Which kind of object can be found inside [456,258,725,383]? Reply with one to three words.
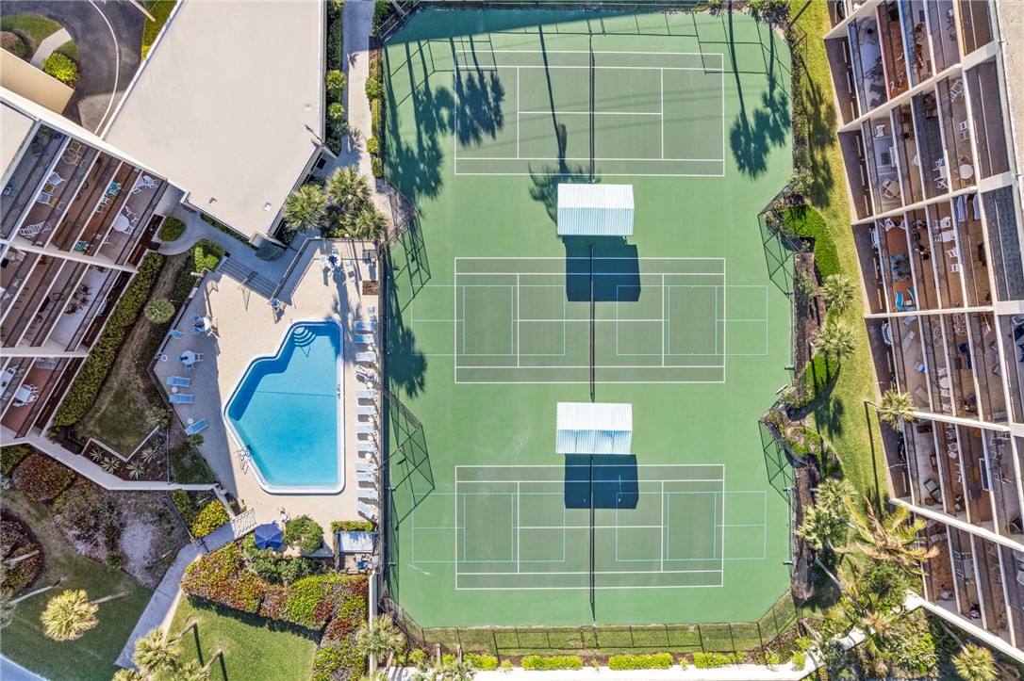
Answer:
tennis court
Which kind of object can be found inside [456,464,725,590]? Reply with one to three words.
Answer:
tennis court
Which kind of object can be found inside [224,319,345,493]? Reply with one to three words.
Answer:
swimming pool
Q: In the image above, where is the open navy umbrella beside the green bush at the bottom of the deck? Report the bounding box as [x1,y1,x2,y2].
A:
[244,521,275,552]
